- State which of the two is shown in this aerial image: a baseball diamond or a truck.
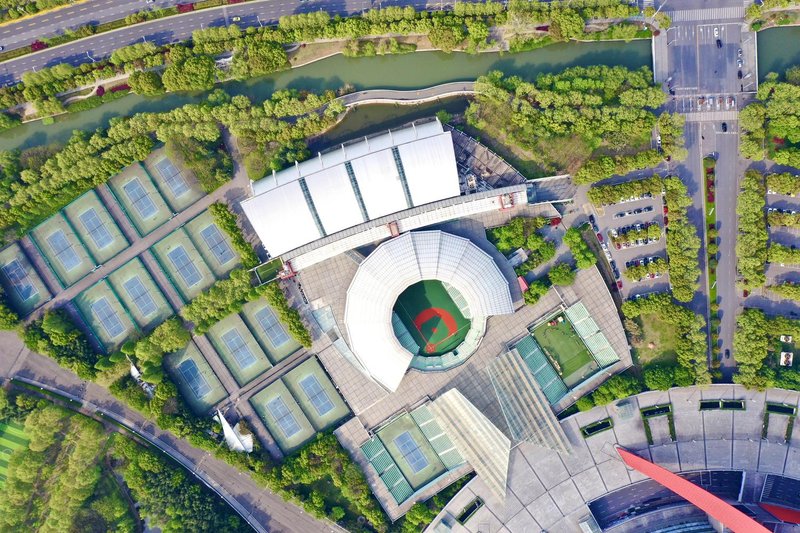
baseball diamond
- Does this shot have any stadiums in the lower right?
Yes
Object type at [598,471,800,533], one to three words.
stadium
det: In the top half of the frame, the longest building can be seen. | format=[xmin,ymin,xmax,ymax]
[238,116,462,258]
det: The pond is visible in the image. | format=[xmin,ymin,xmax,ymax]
[291,92,473,164]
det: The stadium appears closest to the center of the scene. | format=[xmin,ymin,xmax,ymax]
[344,231,514,392]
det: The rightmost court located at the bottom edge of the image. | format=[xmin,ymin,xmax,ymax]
[362,403,470,510]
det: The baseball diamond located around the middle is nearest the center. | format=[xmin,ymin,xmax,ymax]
[393,281,470,356]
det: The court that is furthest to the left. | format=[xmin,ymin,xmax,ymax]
[0,245,50,318]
